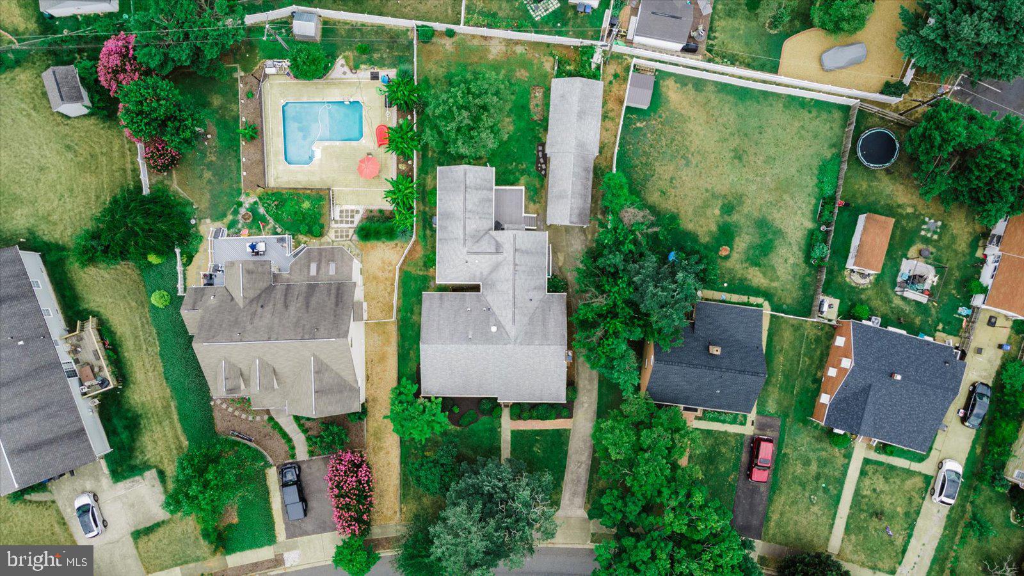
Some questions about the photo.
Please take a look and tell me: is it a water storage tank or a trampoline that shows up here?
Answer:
trampoline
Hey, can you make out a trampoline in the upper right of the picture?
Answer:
Yes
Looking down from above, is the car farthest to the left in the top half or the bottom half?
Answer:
bottom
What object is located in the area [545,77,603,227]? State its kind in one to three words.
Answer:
building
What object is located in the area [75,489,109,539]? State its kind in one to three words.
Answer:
car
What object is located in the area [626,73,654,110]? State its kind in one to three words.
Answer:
shed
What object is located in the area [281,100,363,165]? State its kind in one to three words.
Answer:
swimming pool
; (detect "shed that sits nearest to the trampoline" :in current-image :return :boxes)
[842,213,894,273]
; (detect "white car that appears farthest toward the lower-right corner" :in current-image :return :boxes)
[925,456,961,507]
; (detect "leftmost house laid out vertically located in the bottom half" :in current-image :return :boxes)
[0,246,110,497]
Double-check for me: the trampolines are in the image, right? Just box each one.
[853,127,898,169]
